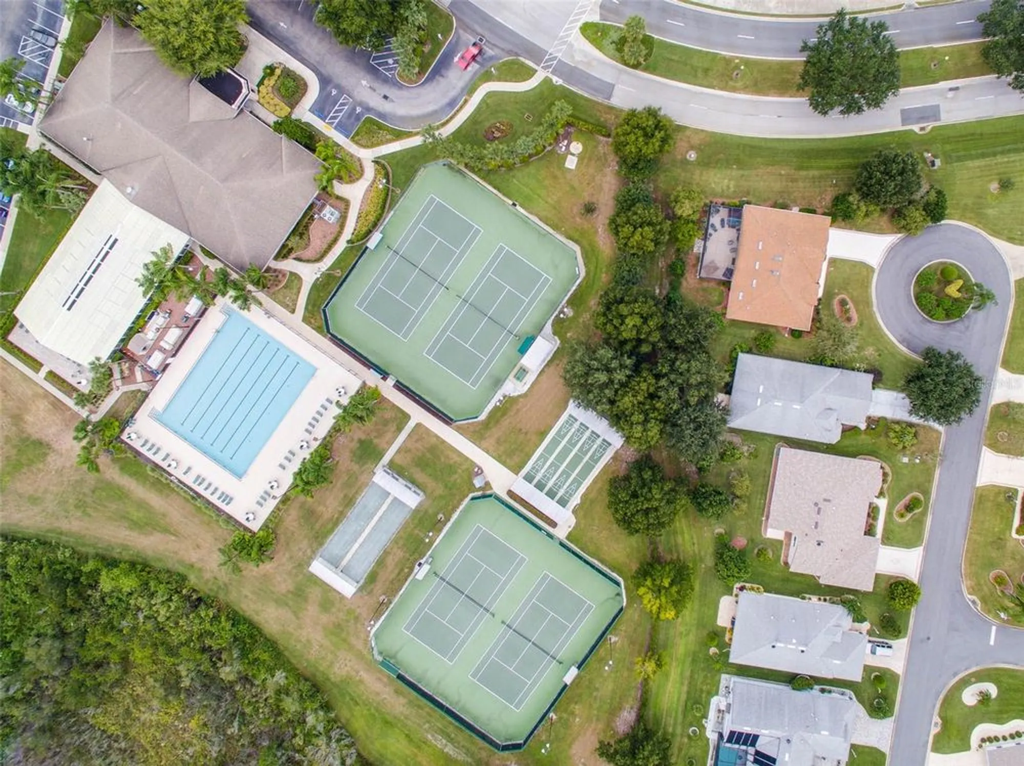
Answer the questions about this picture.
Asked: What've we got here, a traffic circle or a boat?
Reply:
traffic circle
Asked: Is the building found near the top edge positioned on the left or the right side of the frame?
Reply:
left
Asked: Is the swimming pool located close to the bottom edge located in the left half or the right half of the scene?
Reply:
right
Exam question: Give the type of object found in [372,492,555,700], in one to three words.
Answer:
tennis court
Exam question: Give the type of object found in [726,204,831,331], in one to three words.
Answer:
house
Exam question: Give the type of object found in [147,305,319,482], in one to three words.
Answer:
swimming pool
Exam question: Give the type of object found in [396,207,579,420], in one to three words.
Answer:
tennis court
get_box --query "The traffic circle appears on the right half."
[910,258,977,323]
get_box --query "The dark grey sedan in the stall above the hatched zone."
[25,26,56,47]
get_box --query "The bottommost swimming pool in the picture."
[715,746,740,766]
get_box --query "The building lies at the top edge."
[38,22,321,268]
